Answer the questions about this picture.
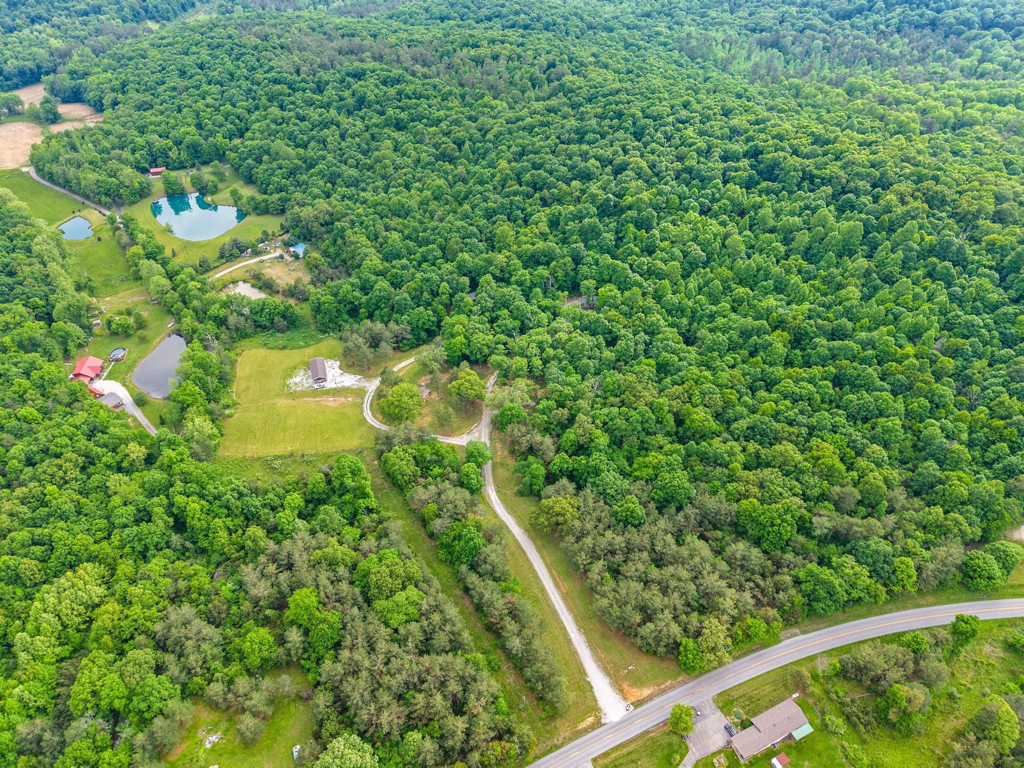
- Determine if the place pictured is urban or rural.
rural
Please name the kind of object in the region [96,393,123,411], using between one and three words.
building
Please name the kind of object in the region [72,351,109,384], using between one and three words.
house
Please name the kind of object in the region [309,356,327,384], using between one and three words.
barn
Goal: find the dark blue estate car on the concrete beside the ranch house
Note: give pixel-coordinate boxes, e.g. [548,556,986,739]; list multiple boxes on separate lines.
[722,718,738,736]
